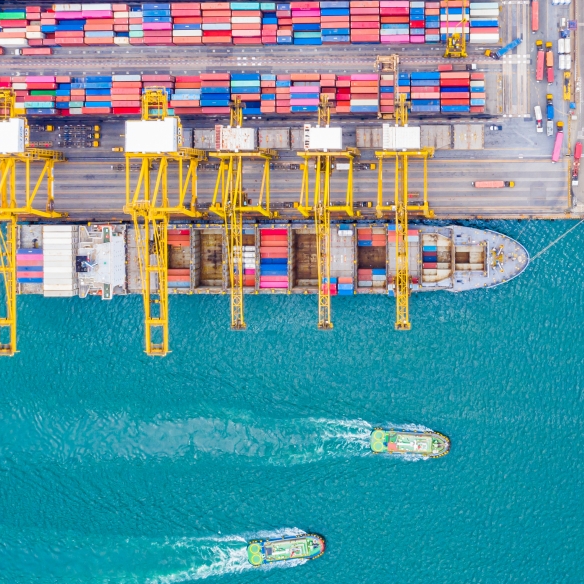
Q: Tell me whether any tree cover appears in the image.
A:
No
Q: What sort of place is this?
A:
port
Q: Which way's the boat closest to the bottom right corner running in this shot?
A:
from left to right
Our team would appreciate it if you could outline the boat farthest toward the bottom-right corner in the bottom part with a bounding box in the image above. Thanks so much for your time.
[369,429,451,458]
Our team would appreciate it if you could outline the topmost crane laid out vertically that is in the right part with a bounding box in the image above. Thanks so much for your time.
[439,0,466,57]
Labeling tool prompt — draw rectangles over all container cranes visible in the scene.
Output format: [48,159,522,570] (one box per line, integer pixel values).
[292,93,363,330]
[0,89,71,356]
[203,93,283,331]
[119,88,210,356]
[367,92,434,331]
[374,58,402,119]
[439,0,466,57]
